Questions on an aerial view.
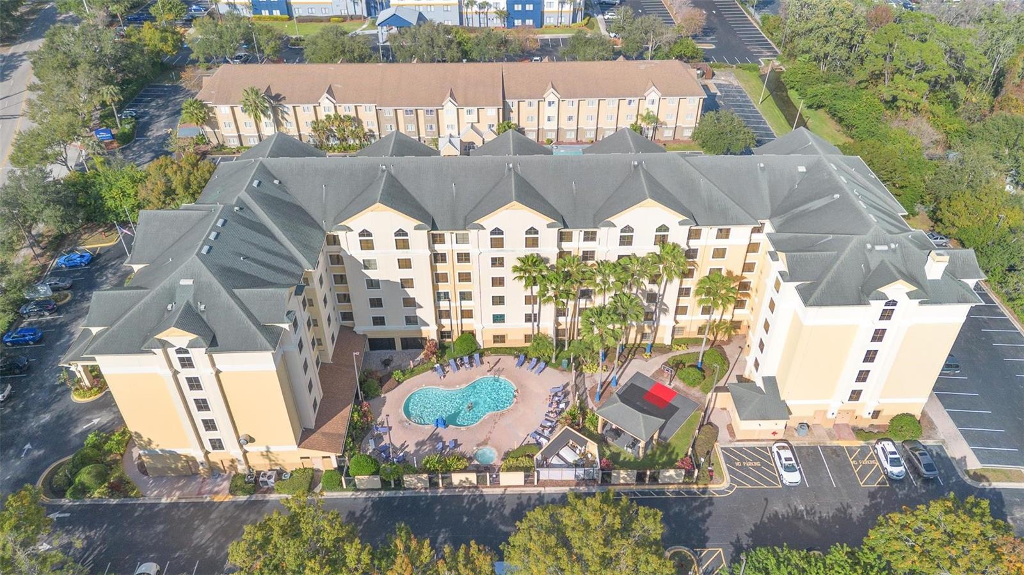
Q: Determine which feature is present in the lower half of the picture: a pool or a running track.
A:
pool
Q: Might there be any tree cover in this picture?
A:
Yes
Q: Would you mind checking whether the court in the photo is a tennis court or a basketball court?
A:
basketball court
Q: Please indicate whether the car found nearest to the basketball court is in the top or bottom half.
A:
bottom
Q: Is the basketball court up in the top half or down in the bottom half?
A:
bottom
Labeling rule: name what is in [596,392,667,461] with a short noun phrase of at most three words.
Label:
building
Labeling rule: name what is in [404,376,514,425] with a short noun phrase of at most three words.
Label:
swimming pool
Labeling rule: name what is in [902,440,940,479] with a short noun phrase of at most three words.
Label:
car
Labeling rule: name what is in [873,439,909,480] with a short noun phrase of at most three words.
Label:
car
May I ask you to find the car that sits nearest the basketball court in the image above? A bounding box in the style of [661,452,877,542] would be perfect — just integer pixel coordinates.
[770,443,802,484]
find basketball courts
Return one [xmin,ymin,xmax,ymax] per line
[606,371,697,447]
